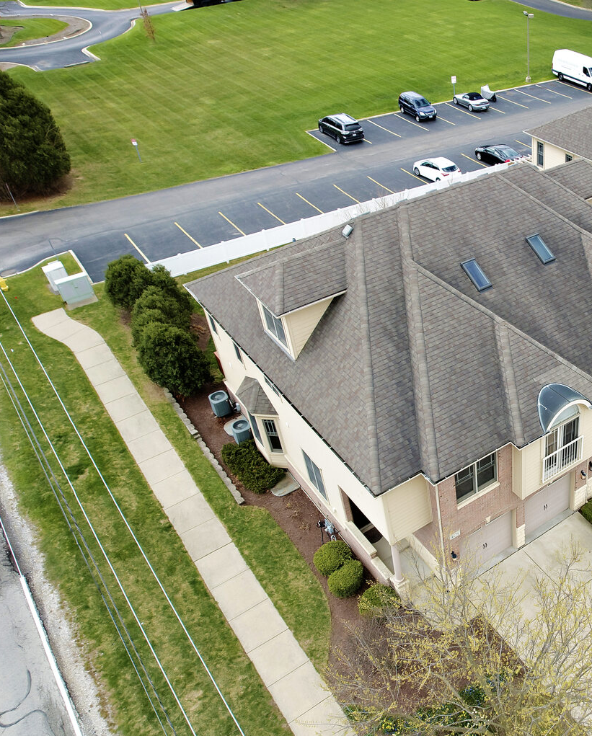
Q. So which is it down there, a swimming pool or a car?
car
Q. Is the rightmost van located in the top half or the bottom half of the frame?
top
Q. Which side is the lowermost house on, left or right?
right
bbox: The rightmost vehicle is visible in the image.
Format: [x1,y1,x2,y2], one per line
[552,49,592,90]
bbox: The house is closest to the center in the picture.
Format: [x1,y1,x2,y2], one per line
[181,155,592,595]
